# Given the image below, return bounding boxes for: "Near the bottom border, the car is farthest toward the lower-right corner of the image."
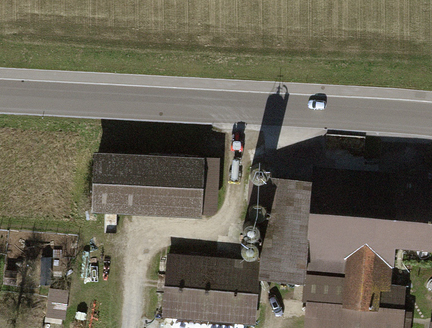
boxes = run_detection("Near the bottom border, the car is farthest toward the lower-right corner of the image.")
[269,296,283,314]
